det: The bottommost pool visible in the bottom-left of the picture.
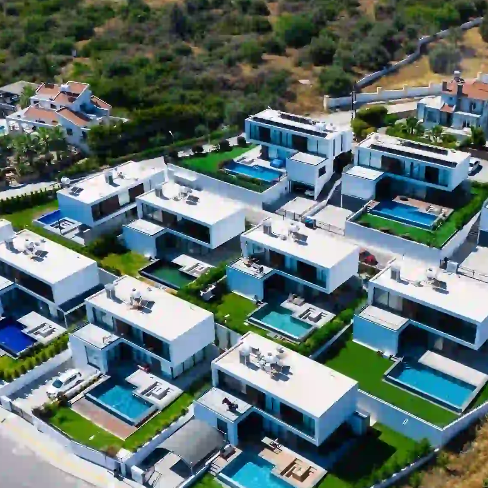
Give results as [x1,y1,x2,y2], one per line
[79,368,184,431]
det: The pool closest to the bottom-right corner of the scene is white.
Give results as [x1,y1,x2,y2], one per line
[379,350,488,416]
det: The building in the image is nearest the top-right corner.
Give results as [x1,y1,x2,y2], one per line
[412,78,488,132]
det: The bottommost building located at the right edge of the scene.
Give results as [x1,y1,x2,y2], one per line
[349,259,488,355]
